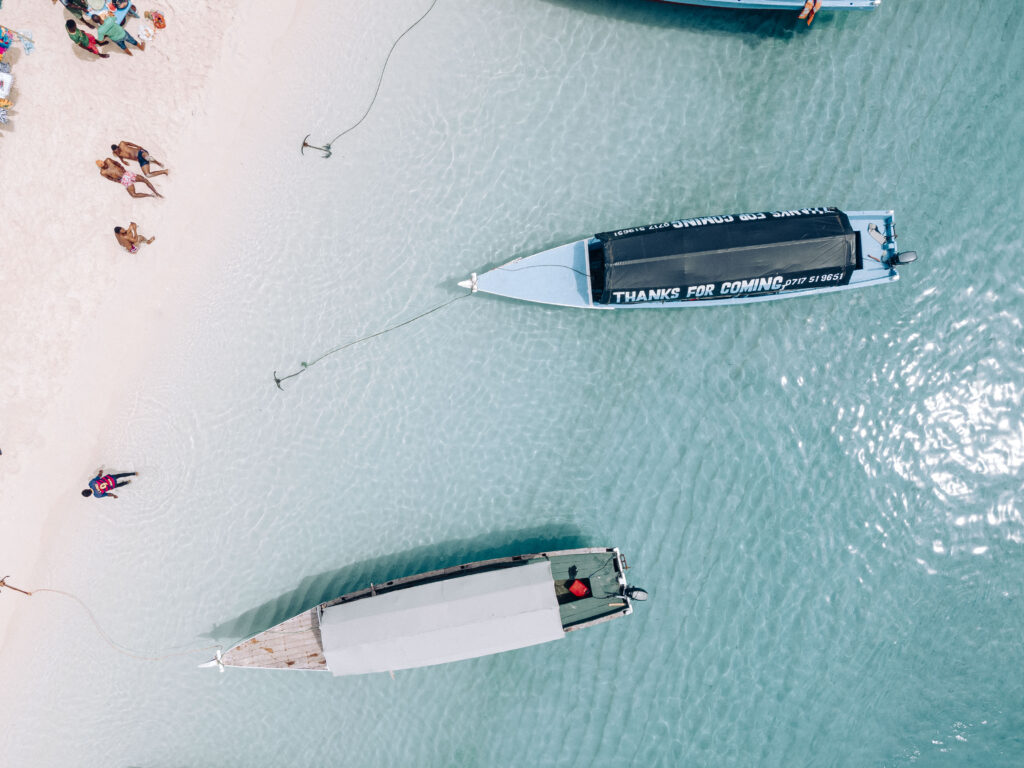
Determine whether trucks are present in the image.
No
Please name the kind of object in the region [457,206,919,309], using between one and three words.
boat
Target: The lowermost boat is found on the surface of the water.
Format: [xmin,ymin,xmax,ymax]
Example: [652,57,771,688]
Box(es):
[198,544,645,678]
